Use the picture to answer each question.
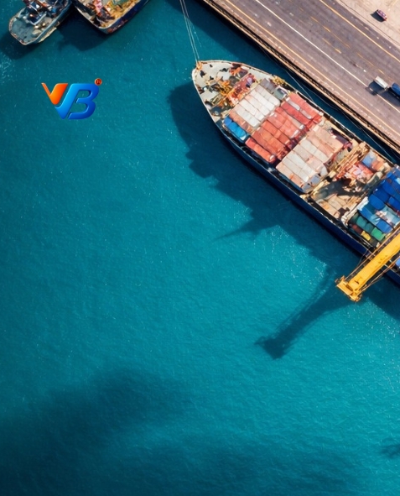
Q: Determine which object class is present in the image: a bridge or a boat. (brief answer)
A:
boat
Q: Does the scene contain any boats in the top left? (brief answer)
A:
Yes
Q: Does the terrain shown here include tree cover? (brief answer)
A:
No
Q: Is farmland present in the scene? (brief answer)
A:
No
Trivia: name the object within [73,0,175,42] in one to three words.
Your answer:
boat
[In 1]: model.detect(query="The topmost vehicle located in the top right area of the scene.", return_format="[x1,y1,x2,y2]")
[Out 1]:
[373,6,388,21]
